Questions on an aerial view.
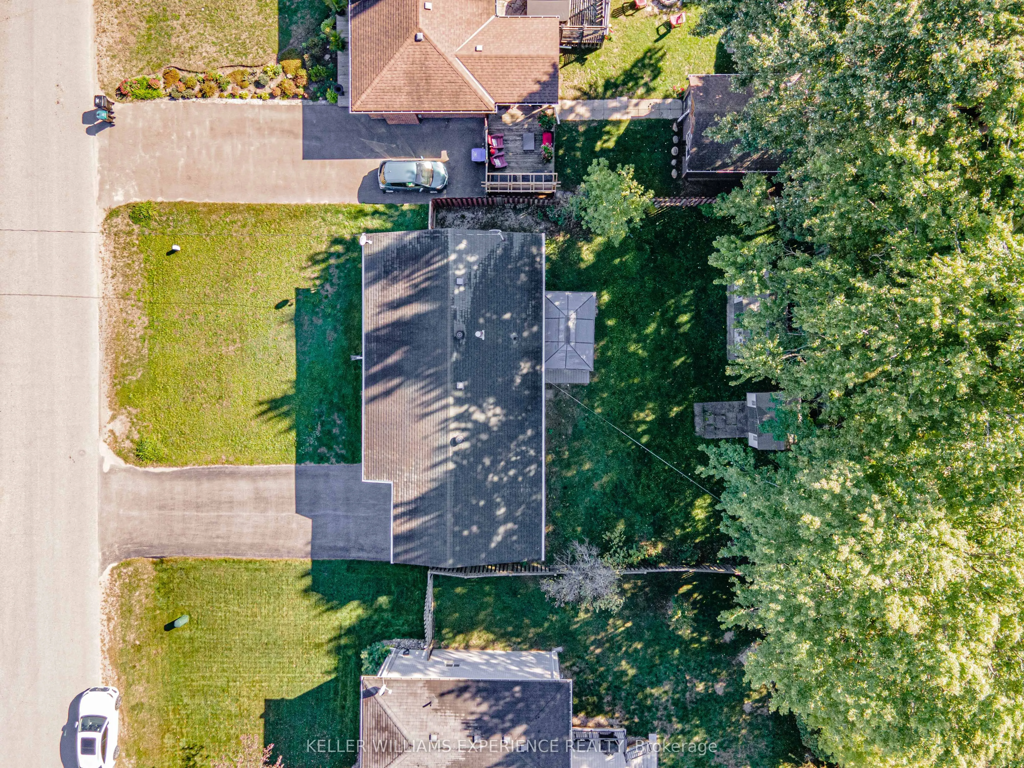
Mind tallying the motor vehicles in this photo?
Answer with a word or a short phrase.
two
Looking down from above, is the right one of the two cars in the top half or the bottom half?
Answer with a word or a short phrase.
top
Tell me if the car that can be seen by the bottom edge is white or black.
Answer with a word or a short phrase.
white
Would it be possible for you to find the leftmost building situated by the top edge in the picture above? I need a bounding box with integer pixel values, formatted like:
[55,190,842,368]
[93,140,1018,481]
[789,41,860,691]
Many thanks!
[348,0,572,130]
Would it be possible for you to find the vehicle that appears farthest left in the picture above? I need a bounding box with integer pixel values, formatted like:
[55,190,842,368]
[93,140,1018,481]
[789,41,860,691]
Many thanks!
[75,685,119,766]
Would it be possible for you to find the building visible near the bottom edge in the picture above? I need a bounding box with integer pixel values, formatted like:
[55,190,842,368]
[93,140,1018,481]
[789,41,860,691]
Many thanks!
[357,643,574,768]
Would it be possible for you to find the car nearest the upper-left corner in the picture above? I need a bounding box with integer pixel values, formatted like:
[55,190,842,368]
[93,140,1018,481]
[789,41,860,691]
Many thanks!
[379,157,448,193]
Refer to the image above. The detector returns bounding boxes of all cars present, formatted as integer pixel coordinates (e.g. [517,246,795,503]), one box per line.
[75,685,119,766]
[379,157,448,193]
